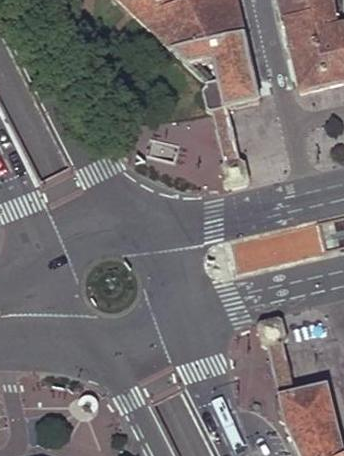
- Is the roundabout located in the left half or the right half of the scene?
left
